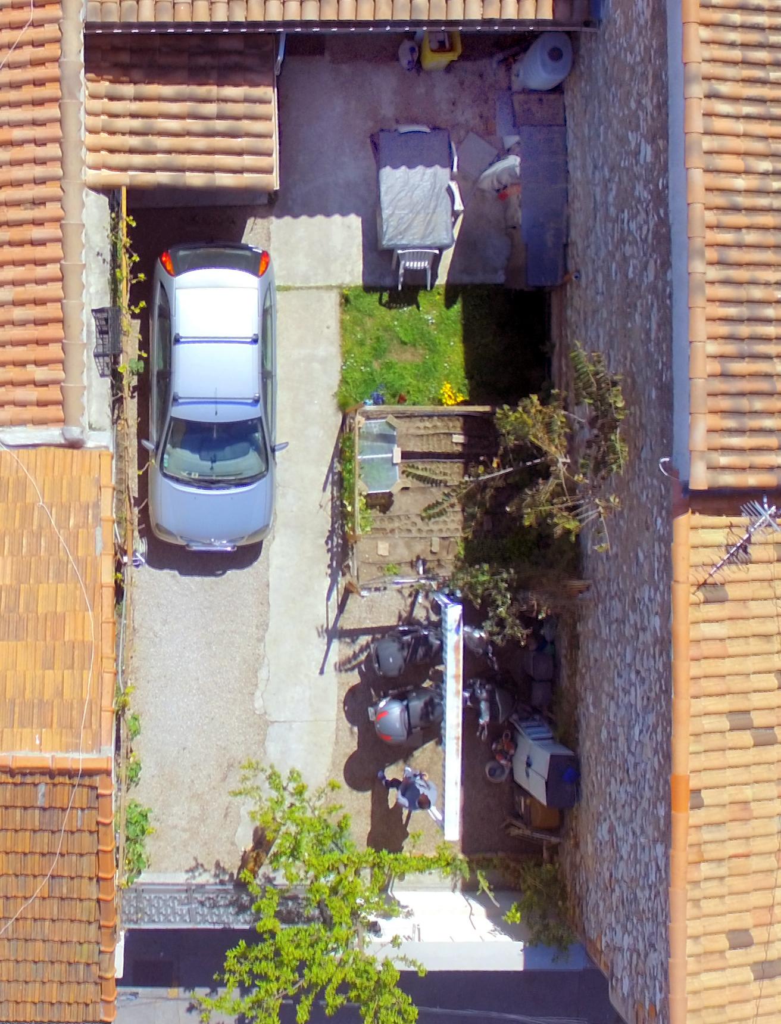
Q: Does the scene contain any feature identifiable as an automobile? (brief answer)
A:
Yes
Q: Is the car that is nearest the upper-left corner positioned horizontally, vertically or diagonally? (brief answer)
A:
vertically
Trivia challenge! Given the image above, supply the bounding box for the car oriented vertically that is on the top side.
[139,244,286,553]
